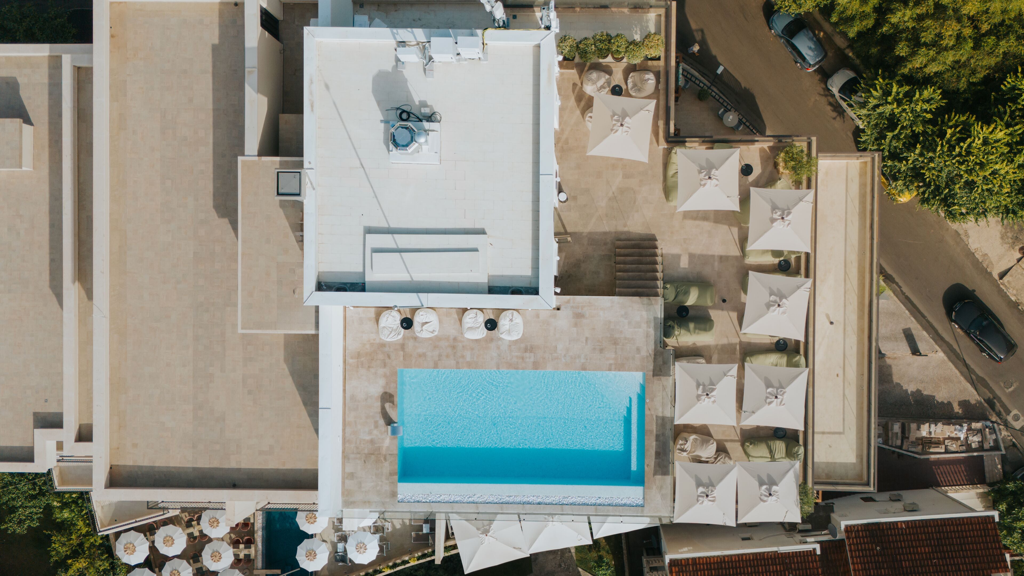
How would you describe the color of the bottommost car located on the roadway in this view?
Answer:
black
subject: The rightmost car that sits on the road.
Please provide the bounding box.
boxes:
[941,291,1024,369]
